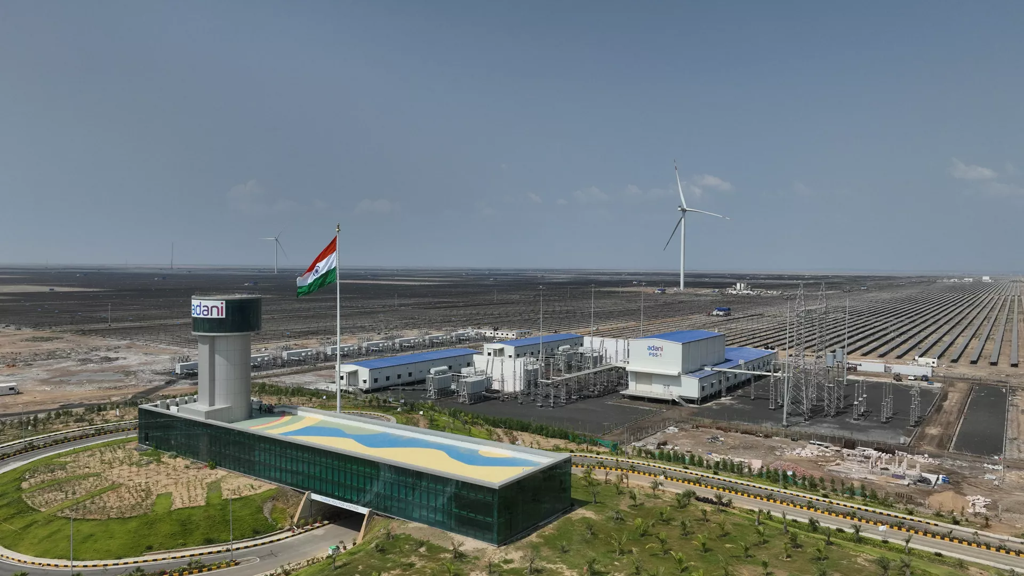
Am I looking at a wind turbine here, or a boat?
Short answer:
wind turbine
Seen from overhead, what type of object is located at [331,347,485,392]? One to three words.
building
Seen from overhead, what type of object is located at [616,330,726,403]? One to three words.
building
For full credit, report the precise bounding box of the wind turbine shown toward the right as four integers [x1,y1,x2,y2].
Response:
[662,162,729,291]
